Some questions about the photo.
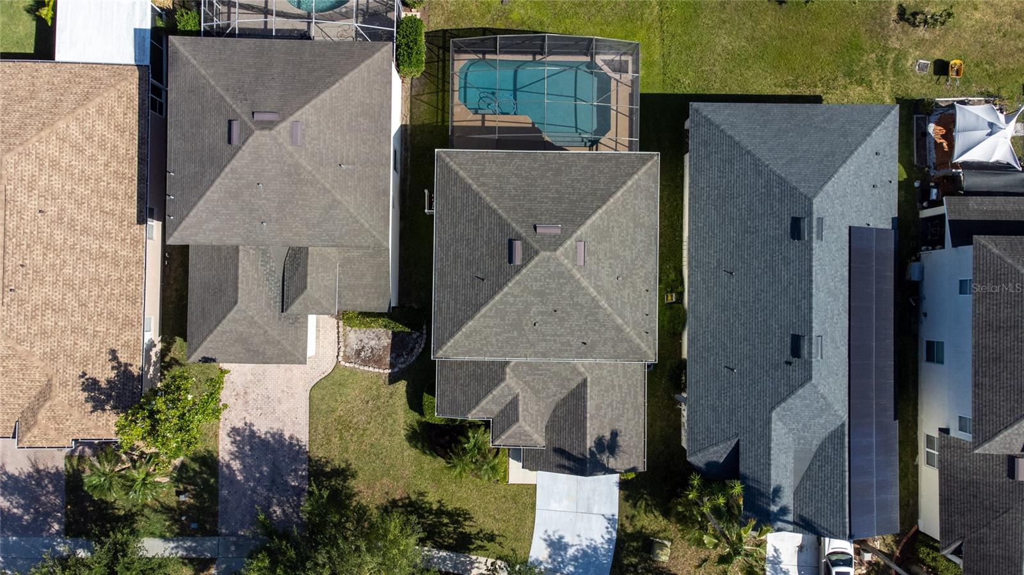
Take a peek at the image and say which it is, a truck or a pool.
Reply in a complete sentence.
Visible in the photo is a pool.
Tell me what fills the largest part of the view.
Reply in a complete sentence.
The scene is dominated by buildings.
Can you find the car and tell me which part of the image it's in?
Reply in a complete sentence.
The car is in the bottom right part of the image.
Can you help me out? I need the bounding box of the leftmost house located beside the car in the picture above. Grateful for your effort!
[682,101,900,540]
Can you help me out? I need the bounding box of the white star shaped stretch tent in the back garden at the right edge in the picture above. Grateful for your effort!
[919,102,1024,175]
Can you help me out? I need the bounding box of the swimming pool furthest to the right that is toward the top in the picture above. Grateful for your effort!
[455,57,616,150]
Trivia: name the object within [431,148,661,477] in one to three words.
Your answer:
house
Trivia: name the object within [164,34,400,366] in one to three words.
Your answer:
house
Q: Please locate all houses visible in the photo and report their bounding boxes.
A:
[682,101,900,540]
[0,57,161,450]
[164,34,400,366]
[431,148,661,477]
[919,193,1024,575]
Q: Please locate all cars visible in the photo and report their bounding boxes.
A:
[816,537,861,575]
